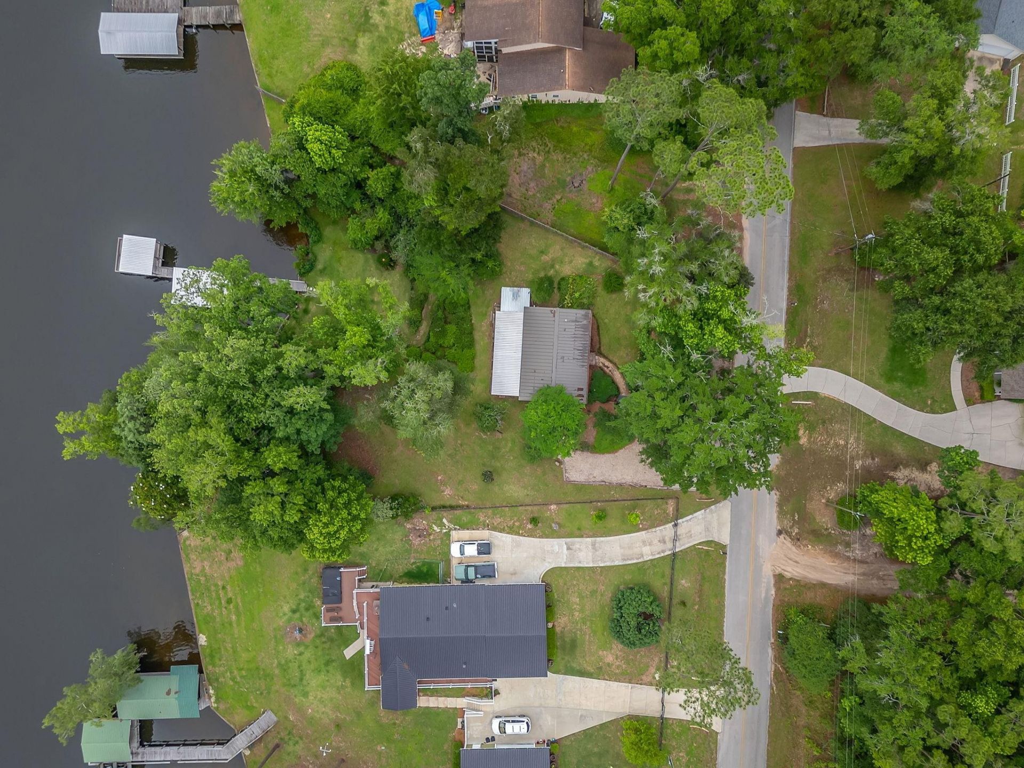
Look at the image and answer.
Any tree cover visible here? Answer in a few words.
Yes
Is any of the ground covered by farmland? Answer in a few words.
No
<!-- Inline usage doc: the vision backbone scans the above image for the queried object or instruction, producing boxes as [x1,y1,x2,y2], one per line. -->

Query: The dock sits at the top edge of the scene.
[113,0,243,61]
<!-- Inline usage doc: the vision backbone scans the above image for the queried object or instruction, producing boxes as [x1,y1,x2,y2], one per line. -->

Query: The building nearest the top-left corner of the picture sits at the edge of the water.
[99,13,188,65]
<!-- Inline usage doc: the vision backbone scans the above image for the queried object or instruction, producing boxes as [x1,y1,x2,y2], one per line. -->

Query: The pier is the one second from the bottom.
[115,237,174,279]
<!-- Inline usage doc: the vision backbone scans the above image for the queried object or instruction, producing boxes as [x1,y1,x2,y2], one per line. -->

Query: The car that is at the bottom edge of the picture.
[492,715,529,735]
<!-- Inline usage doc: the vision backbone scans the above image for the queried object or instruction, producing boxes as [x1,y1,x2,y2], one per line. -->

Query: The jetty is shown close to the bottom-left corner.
[85,671,280,768]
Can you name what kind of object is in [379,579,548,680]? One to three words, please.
house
